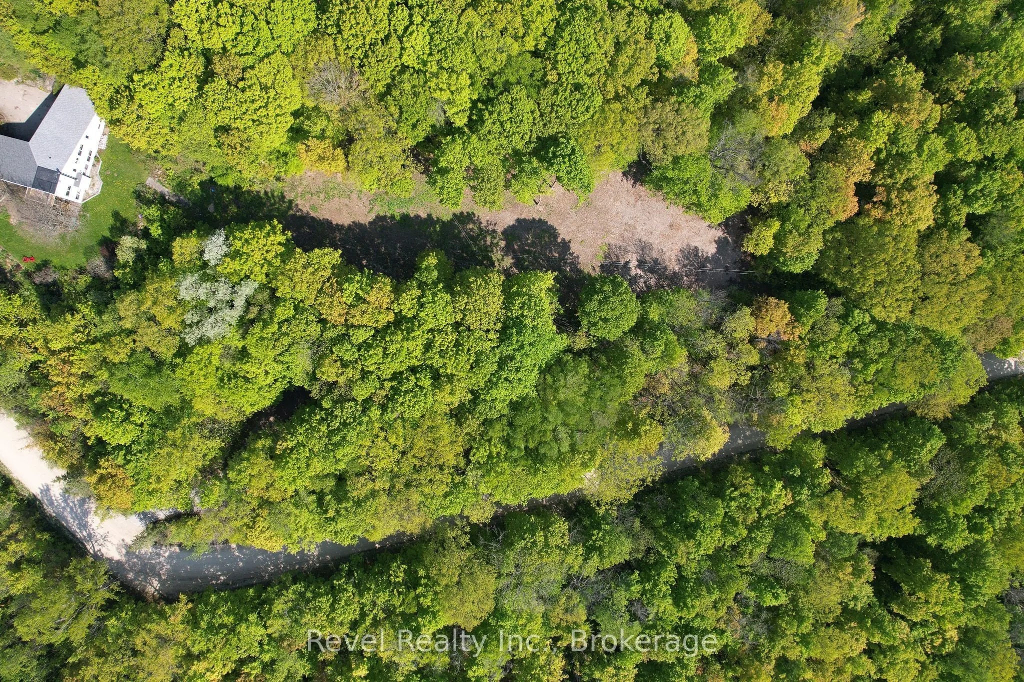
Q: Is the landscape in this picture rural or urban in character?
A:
rural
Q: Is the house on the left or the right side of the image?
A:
left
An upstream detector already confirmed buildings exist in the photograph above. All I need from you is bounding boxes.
[0,90,107,217]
